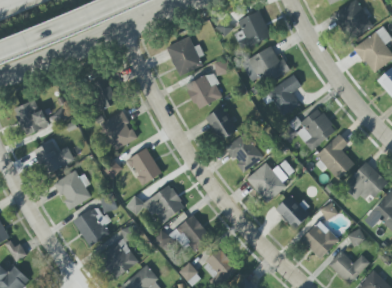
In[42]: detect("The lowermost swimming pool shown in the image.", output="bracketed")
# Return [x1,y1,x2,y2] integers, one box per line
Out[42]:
[327,214,352,235]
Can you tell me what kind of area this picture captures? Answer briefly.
residential area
